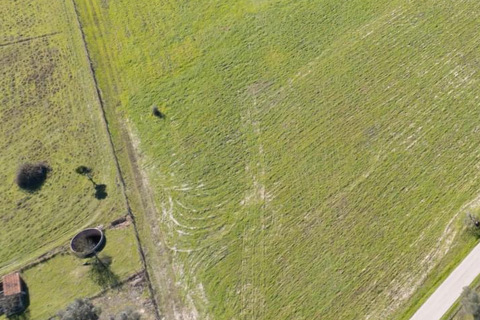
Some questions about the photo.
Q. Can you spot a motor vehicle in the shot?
No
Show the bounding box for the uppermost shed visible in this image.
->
[3,267,33,305]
